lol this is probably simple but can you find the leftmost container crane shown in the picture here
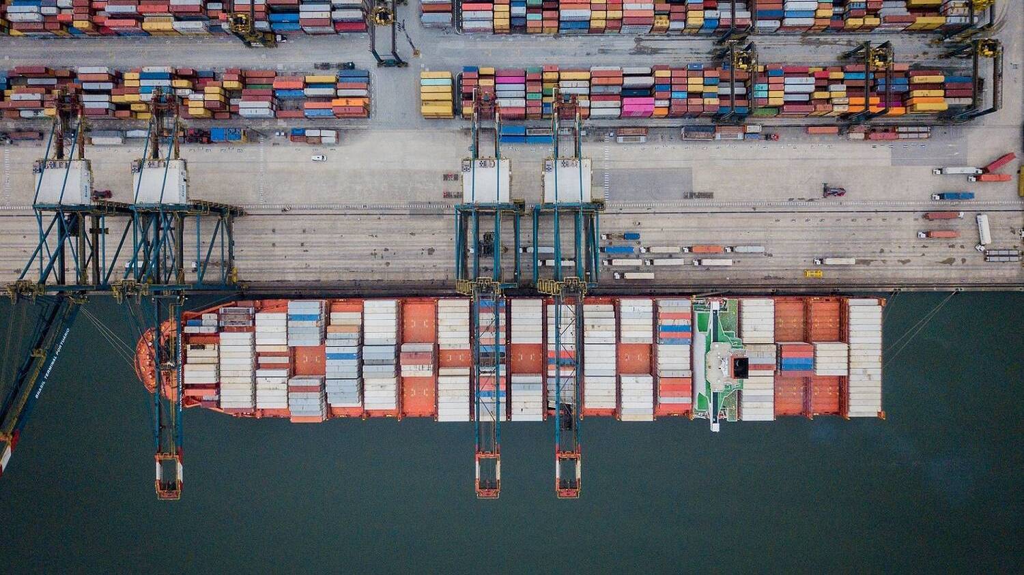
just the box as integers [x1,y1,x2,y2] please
[0,82,150,457]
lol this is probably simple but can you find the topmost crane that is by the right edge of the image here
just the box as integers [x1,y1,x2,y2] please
[943,0,995,41]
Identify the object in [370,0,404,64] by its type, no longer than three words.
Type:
crane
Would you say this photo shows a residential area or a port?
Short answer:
port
